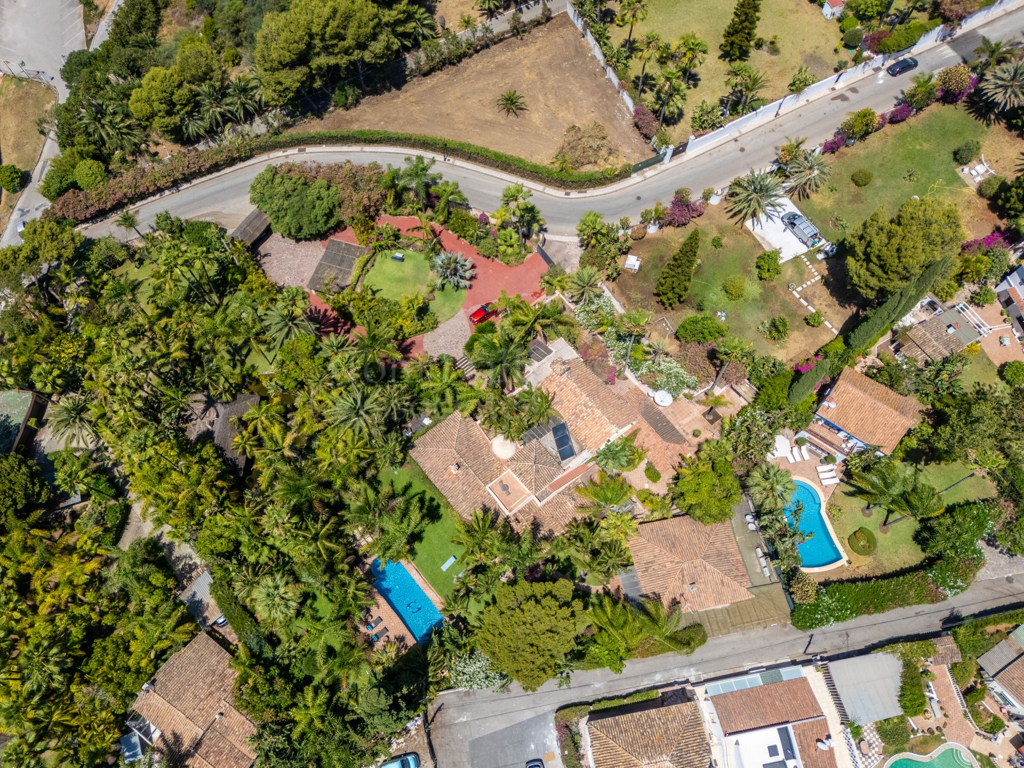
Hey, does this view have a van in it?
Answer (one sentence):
Yes, the photo shows a van.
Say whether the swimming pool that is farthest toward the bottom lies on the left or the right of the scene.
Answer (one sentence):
The swimming pool that is farthest toward the bottom sits on the right side.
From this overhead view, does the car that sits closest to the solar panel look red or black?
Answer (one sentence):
The car that sits closest to the solar panel looks red in the image.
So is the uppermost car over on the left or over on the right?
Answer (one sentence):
You can find the uppermost car on the right side of the picture.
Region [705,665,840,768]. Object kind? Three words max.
house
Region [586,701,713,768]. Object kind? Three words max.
house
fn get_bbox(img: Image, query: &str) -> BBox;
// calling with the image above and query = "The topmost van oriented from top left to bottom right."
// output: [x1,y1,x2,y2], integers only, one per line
[784,215,825,251]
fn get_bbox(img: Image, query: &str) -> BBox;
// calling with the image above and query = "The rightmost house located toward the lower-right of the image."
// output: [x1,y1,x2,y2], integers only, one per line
[979,624,1024,714]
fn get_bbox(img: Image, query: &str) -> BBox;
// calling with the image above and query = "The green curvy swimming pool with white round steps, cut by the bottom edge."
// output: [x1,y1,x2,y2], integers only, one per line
[891,748,974,768]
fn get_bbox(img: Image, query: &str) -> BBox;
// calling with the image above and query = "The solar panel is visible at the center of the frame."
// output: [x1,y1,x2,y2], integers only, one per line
[551,422,575,460]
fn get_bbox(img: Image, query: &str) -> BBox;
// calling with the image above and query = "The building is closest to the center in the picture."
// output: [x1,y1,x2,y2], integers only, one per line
[410,336,693,536]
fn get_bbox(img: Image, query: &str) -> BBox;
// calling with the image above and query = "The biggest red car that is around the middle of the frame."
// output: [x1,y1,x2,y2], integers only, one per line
[466,300,499,326]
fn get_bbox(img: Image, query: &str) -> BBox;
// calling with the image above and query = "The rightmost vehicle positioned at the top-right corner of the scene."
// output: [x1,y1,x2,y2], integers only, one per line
[886,58,917,78]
